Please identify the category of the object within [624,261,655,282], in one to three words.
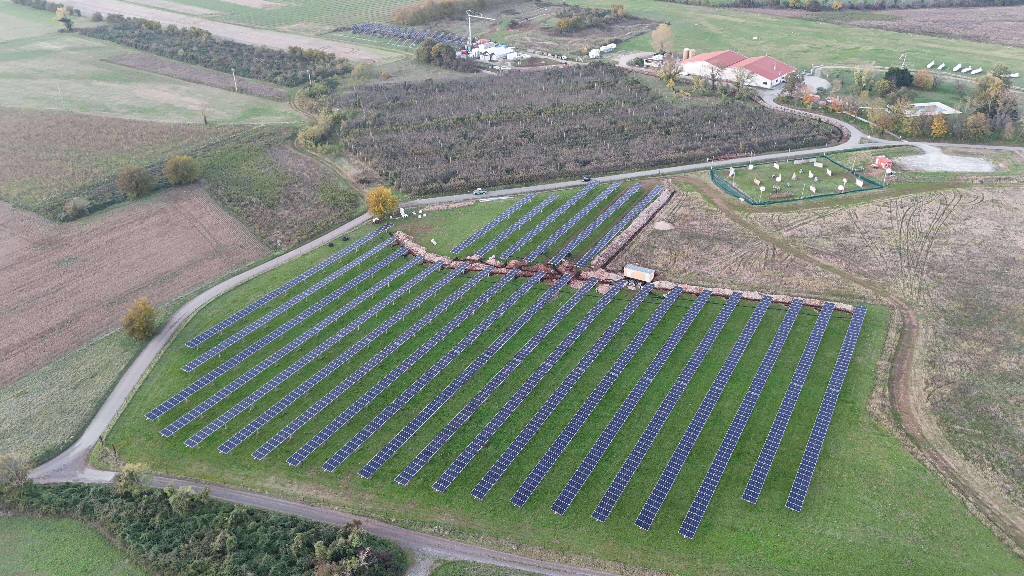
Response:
building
